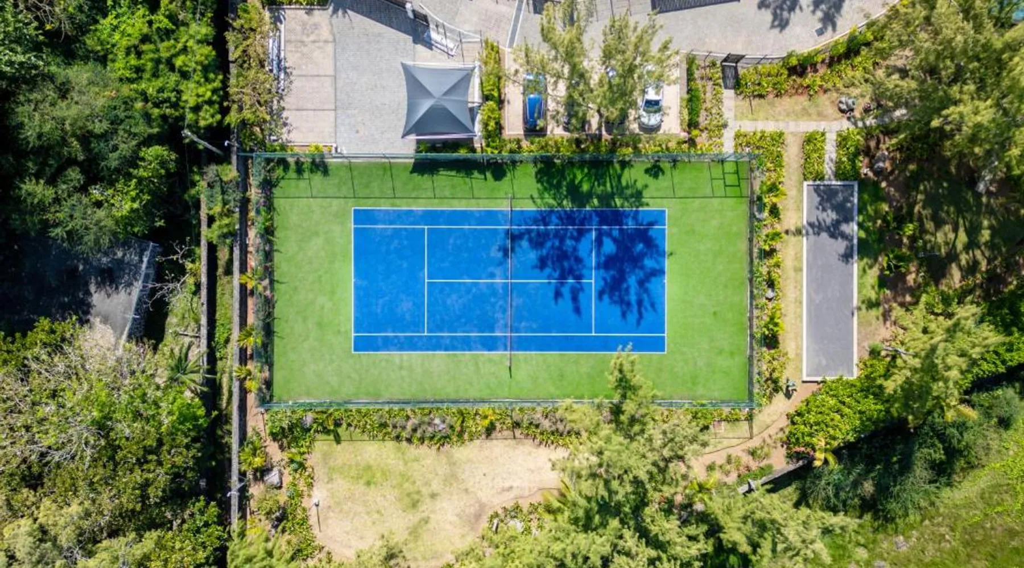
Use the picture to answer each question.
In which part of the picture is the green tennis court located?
center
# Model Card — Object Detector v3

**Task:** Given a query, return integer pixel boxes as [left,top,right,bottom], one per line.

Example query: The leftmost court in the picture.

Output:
[269,159,748,403]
